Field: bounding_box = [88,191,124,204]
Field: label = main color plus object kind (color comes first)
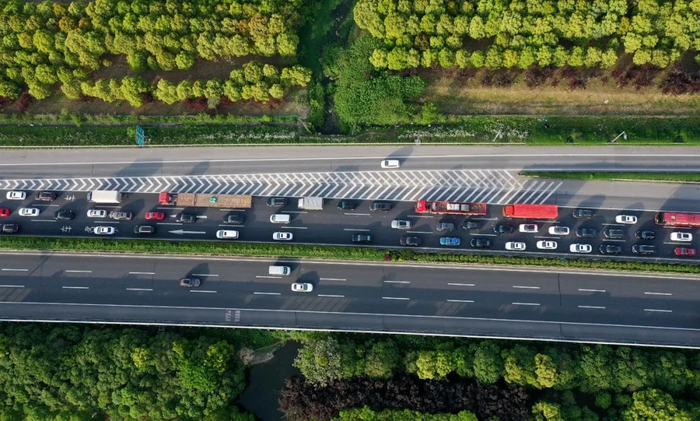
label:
white vehicle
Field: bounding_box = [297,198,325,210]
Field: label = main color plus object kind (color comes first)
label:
white vehicle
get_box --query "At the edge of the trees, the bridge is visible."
[0,251,700,350]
